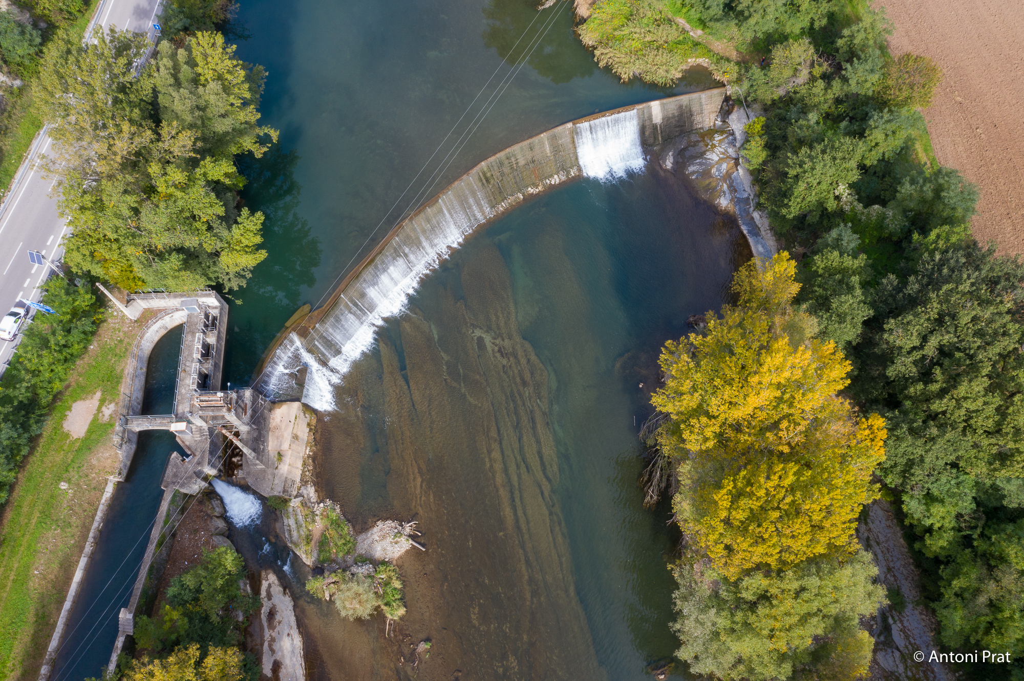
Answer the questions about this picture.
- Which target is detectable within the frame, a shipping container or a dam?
dam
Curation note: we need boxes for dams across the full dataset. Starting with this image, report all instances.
[305,86,726,360]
